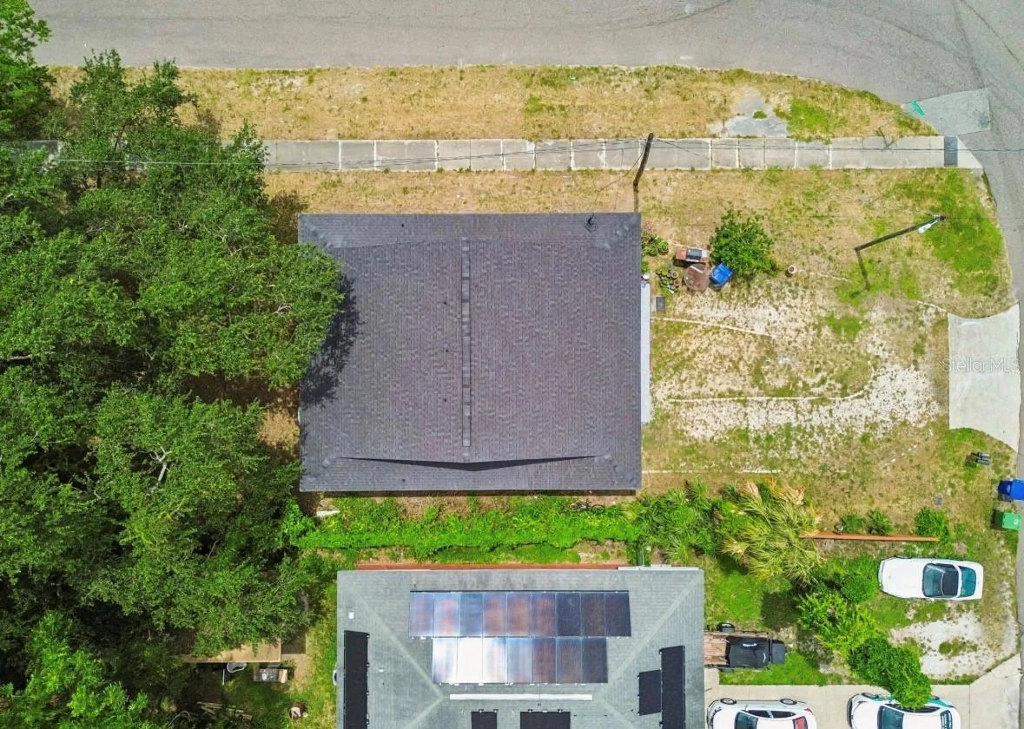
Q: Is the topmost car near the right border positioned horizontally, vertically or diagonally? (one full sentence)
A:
I'd say the topmost car near the right border is aligned horizontally in the picture.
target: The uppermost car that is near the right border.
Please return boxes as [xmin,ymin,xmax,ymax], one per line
[878,552,982,603]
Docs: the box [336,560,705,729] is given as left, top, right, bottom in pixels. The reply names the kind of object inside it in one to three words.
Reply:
house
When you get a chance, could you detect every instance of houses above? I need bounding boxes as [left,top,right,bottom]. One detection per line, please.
[297,212,643,492]
[336,560,705,729]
